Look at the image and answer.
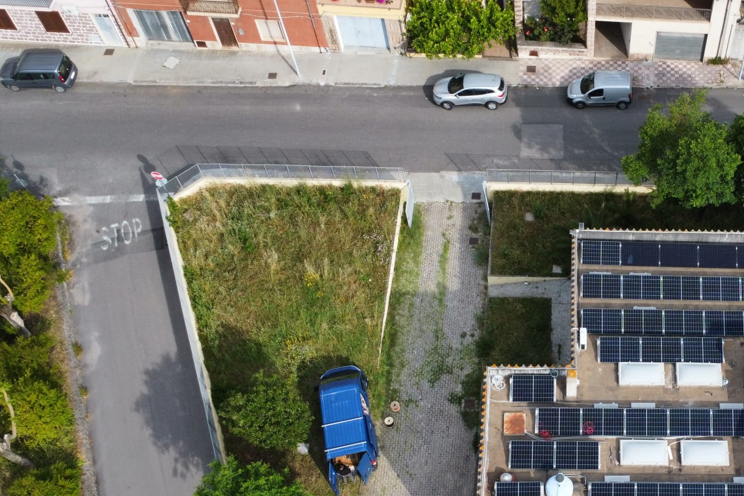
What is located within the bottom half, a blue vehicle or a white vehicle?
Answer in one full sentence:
Looking within the bottom half, you will find a blue vehicle.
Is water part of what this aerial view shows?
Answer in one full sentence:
No, there is no water in the image.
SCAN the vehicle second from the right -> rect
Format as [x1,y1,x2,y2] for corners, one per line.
[430,70,509,110]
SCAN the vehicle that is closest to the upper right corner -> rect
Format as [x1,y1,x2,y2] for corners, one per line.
[568,69,636,110]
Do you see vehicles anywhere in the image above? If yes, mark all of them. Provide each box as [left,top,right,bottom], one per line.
[568,69,636,110]
[318,370,382,490]
[430,70,509,110]
[0,52,76,92]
